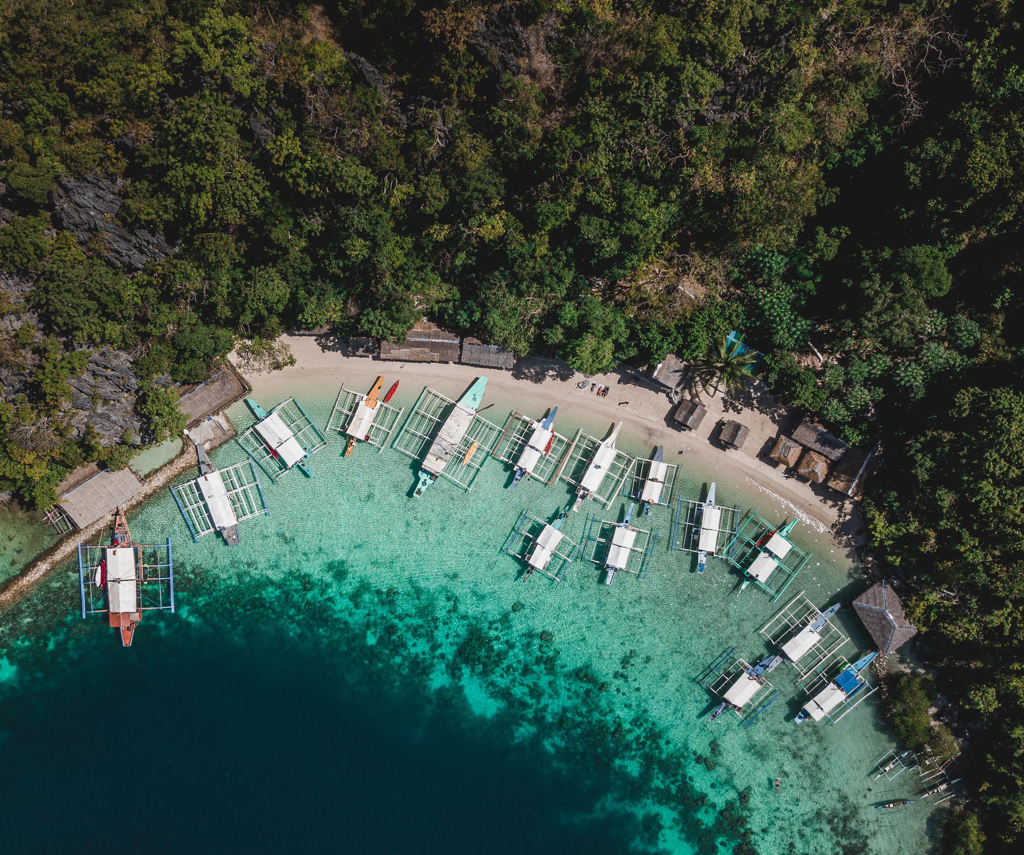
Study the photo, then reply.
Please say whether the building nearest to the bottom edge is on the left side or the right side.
right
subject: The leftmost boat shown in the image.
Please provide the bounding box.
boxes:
[42,507,72,539]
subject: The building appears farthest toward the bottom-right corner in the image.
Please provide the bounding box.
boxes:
[839,579,918,655]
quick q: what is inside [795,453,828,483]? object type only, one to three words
shed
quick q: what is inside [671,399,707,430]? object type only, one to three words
house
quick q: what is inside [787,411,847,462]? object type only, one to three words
shed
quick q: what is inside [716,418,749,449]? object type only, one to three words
house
